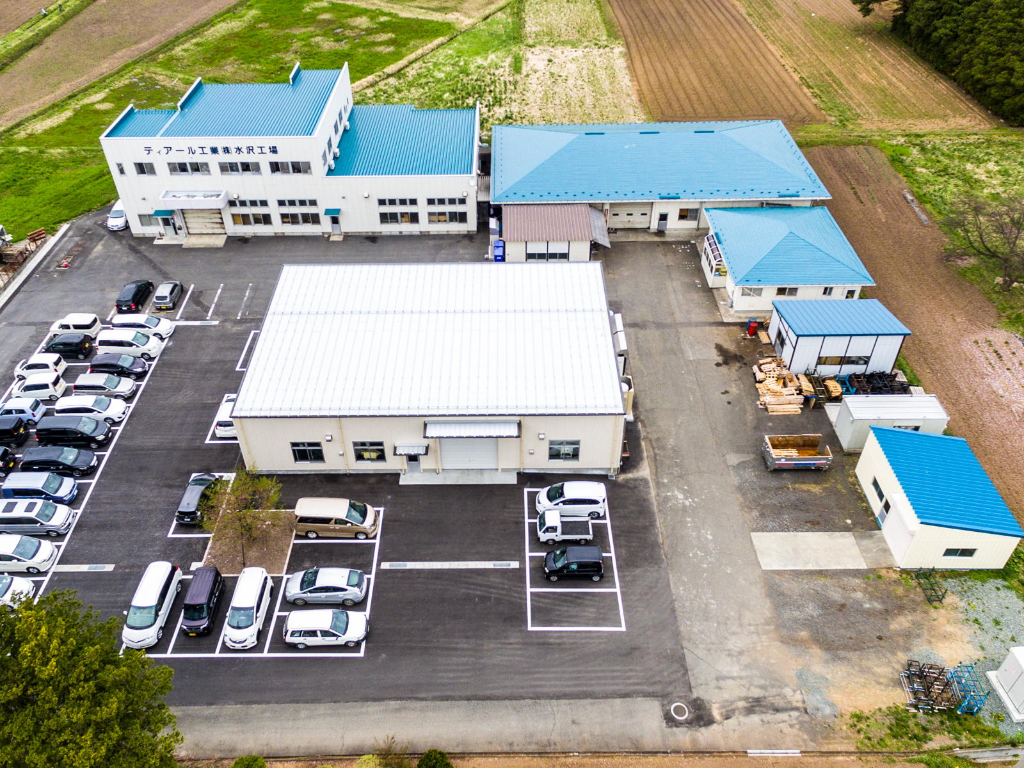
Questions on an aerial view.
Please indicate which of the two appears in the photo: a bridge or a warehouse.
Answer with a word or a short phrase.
warehouse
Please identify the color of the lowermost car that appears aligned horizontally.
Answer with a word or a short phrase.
white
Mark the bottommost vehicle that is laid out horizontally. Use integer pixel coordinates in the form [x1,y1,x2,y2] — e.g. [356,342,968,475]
[278,607,373,649]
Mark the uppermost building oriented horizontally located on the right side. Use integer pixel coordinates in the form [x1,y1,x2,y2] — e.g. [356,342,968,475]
[491,121,832,230]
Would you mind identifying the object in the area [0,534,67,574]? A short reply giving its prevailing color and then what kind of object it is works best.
white car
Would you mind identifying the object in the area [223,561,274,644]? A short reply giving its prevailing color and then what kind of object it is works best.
white car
